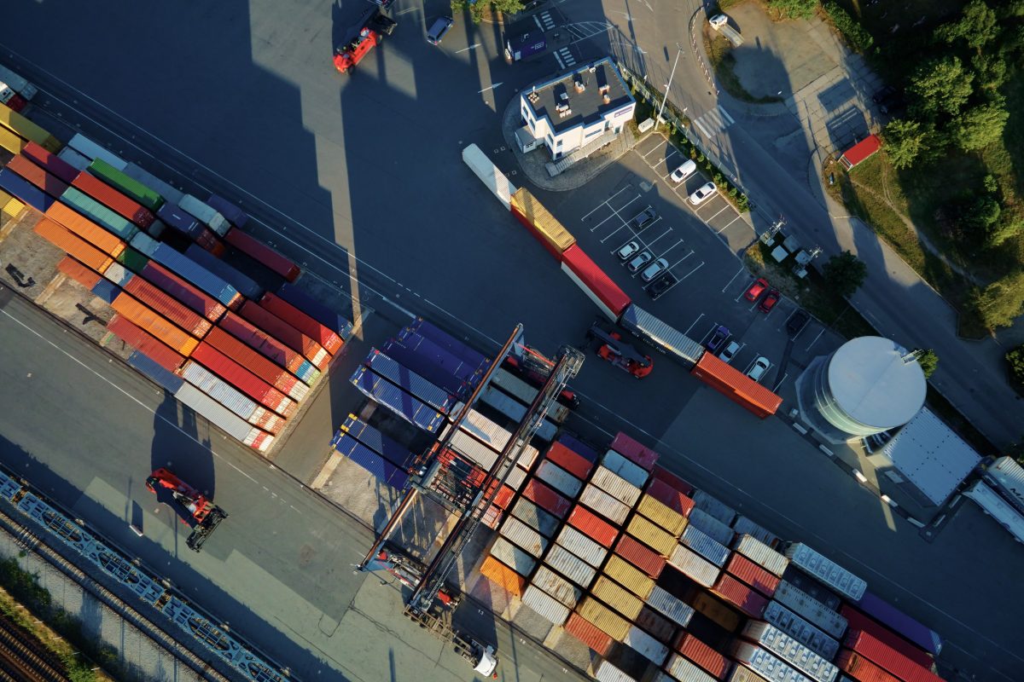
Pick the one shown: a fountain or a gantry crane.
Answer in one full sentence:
Visible in the photo is a gantry crane.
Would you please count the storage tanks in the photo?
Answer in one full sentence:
Just 1 storage tank appears in this view.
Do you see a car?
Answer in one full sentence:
Yes, a car appears in the view.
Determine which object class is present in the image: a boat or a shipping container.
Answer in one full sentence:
This aerial view contains a shipping container.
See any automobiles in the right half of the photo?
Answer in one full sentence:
Yes, an automobile can be seen in the right half of the photo.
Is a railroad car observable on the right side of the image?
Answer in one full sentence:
No, looking on the right side of the image, there is no railroad car.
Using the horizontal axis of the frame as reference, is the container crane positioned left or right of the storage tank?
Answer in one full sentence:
Compared with the storage tank, the container crane is located further to the left.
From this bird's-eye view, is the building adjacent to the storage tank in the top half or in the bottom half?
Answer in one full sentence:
The building adjacent to the storage tank is in the bottom half of the image.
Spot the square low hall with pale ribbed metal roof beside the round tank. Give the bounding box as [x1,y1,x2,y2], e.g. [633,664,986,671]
[866,407,981,508]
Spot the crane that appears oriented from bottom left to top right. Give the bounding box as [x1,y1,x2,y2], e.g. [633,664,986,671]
[361,328,591,623]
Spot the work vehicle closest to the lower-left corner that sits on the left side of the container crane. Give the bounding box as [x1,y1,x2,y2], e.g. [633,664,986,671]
[148,475,232,550]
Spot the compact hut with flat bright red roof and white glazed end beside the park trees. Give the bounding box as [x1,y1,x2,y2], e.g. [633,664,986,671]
[839,135,880,171]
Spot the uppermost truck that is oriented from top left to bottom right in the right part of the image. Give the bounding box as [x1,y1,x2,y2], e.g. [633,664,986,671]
[705,12,745,46]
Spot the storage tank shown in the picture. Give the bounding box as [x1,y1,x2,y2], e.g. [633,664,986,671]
[802,335,928,440]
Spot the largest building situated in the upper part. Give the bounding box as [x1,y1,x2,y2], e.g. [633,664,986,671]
[521,56,636,160]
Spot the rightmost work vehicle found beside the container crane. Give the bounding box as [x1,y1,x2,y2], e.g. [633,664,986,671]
[576,304,663,379]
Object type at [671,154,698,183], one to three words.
vehicle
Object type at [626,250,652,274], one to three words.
car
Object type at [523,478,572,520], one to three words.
shipping container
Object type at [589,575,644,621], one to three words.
shipping container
